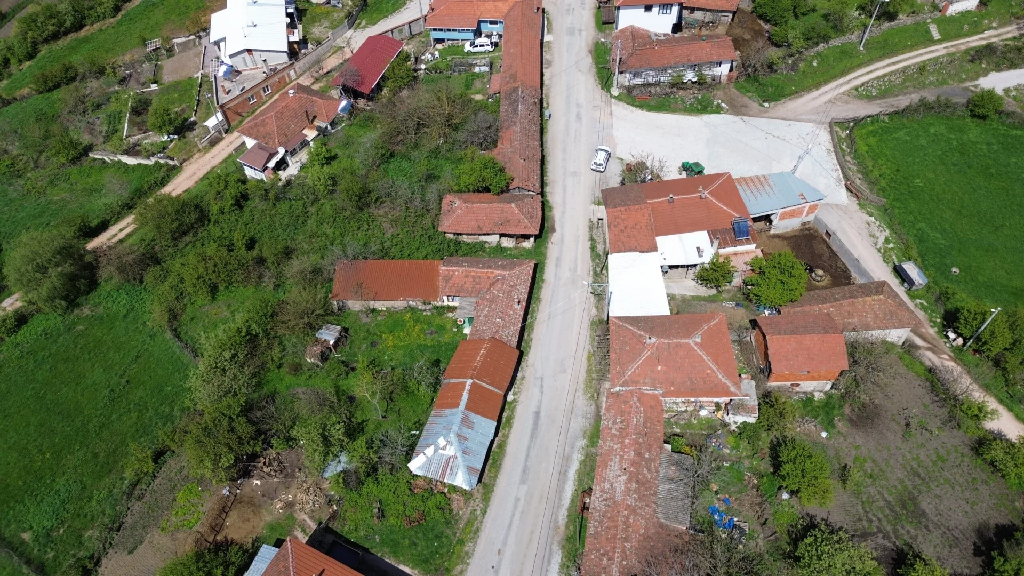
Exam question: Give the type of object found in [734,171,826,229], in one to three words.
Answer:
barn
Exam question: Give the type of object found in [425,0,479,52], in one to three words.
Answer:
house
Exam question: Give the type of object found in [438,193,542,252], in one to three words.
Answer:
house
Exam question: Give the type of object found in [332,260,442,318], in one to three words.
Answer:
shed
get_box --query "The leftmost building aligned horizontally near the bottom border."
[260,529,363,576]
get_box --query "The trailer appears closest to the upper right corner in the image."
[896,257,939,292]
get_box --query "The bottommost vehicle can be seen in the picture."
[943,328,968,348]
